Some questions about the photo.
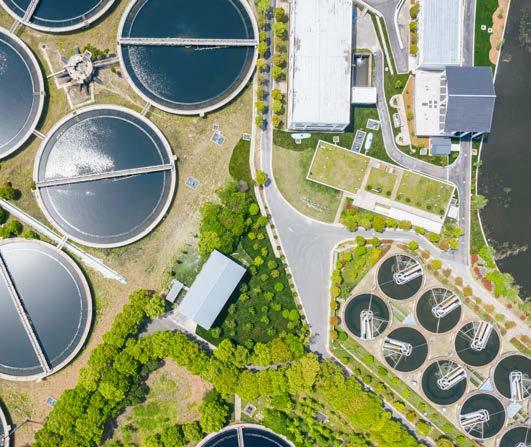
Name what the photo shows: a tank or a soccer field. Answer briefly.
tank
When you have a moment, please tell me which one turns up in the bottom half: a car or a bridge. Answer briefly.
bridge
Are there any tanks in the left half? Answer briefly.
Yes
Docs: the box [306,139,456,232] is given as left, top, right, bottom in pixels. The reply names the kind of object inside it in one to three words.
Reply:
building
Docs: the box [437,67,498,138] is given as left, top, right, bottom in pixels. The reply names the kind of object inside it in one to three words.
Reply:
building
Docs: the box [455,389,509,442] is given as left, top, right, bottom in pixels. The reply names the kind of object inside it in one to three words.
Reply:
storage tank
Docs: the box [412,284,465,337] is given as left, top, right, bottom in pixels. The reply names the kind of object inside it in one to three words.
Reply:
storage tank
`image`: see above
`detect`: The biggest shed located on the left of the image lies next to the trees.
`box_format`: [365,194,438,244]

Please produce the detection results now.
[179,250,246,329]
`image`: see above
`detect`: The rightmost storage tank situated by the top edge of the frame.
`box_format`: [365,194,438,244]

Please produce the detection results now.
[116,0,259,118]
